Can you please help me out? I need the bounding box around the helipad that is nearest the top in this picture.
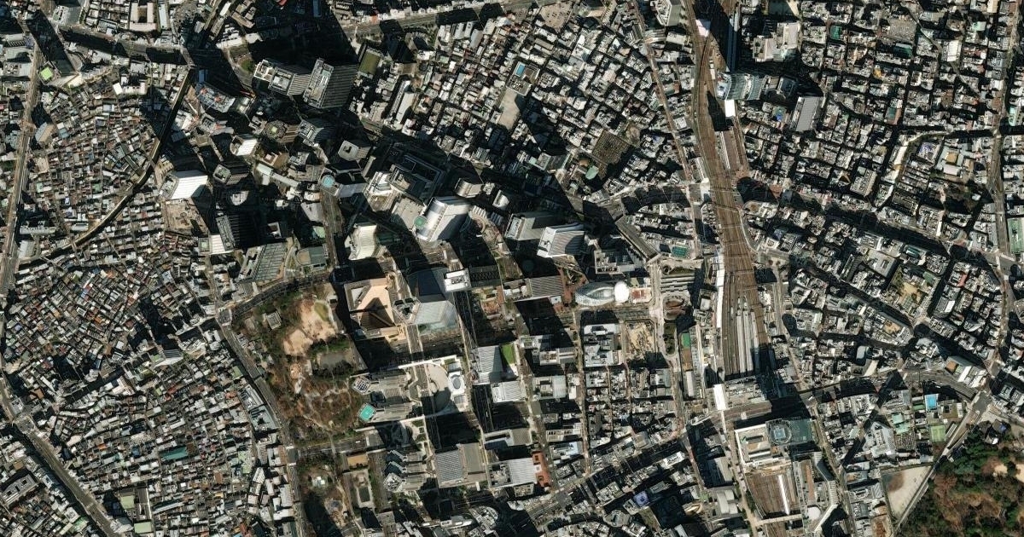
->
[322,174,335,187]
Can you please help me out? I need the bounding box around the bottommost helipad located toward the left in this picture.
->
[360,405,373,418]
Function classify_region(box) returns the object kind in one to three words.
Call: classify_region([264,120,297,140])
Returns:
building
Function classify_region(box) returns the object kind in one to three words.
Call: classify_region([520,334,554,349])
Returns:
building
